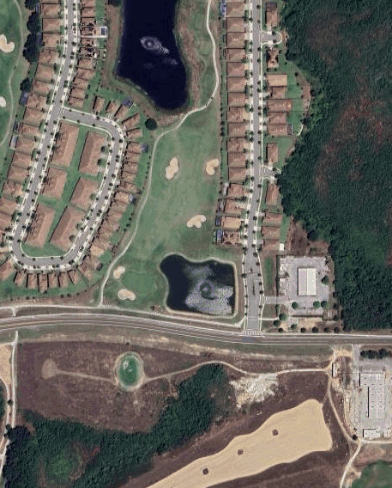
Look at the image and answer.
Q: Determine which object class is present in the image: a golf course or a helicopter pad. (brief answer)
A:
golf course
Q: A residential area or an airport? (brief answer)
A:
residential area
